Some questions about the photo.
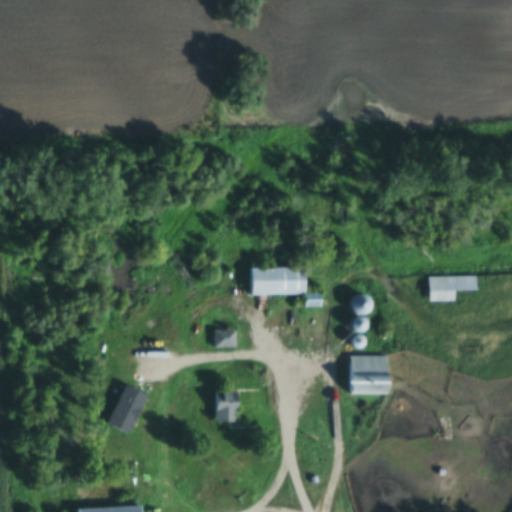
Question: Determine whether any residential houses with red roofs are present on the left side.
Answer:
No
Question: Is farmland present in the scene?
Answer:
Yes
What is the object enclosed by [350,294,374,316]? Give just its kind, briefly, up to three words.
silo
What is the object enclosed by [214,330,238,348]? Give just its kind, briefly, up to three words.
building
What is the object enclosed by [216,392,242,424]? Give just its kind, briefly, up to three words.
house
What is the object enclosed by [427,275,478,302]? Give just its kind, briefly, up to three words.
shed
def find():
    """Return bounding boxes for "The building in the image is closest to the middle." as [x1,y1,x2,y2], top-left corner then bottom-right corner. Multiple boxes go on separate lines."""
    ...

[248,264,306,296]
